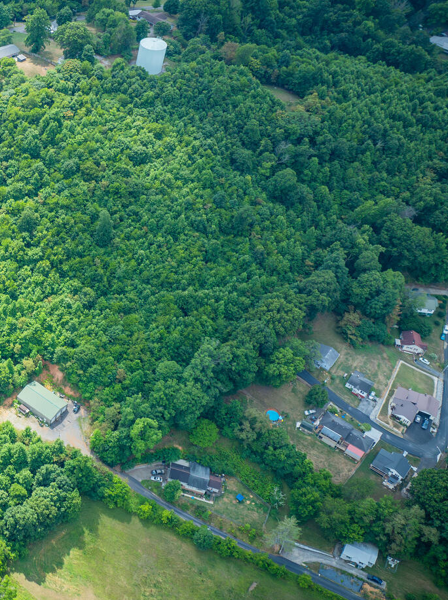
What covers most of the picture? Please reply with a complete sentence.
The largest share of the image is taken up by trees.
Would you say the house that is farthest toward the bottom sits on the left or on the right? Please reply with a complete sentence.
You can find the house that is farthest toward the bottom on the right side of the picture.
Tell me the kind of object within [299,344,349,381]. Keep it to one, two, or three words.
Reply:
house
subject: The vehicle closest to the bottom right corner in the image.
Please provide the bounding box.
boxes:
[364,571,385,587]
